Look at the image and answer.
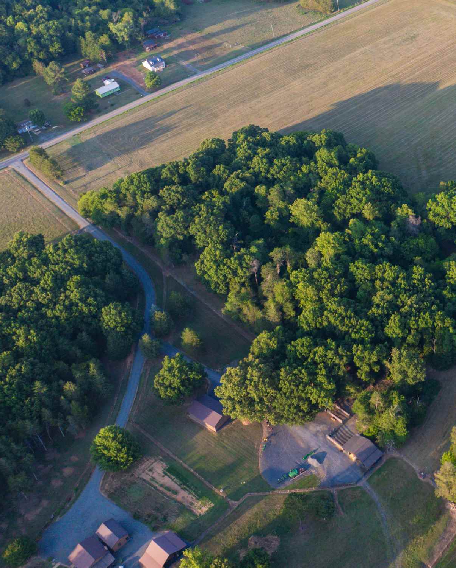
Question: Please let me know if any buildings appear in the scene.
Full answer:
Yes, there's a building here.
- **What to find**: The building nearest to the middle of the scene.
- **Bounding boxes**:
[188,396,223,435]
